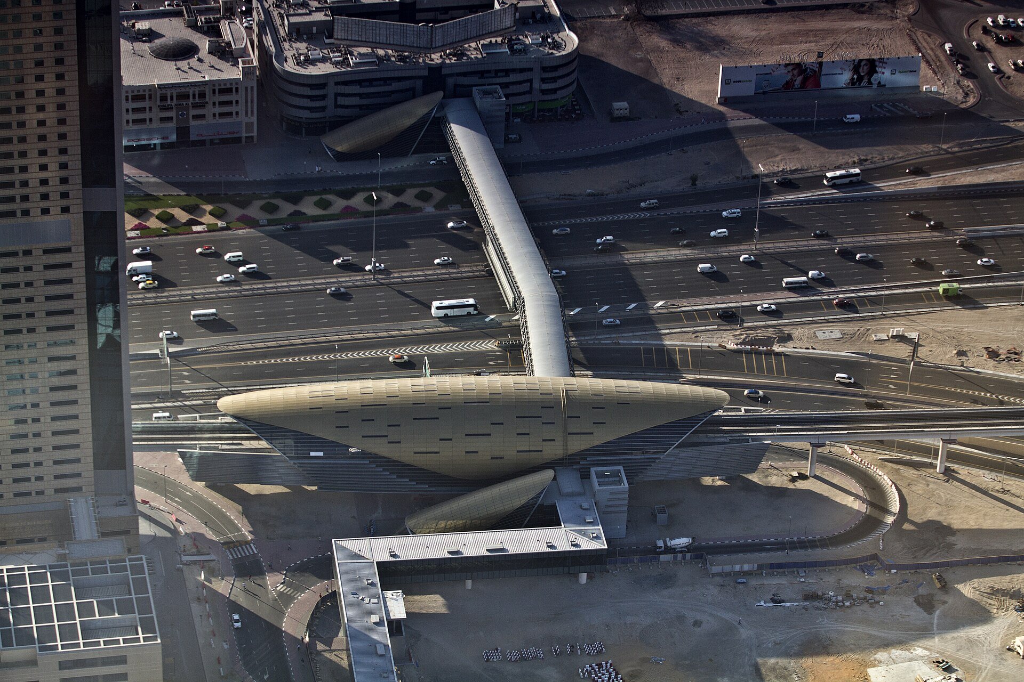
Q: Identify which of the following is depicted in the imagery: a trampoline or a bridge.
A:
bridge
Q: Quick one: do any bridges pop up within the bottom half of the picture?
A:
Yes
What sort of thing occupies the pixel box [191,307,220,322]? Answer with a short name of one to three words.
vehicle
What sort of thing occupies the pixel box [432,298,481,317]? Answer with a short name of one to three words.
vehicle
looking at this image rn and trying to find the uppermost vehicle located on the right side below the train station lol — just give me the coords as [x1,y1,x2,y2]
[656,533,696,552]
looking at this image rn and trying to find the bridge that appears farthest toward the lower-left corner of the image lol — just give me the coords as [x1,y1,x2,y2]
[134,417,268,480]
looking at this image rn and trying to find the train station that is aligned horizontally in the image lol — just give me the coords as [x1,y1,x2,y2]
[176,375,770,505]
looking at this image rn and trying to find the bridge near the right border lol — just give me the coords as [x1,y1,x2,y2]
[673,405,1024,476]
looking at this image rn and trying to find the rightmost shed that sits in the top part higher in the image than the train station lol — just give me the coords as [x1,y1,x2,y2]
[610,98,629,117]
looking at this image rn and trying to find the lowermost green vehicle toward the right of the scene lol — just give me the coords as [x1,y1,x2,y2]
[937,281,963,297]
